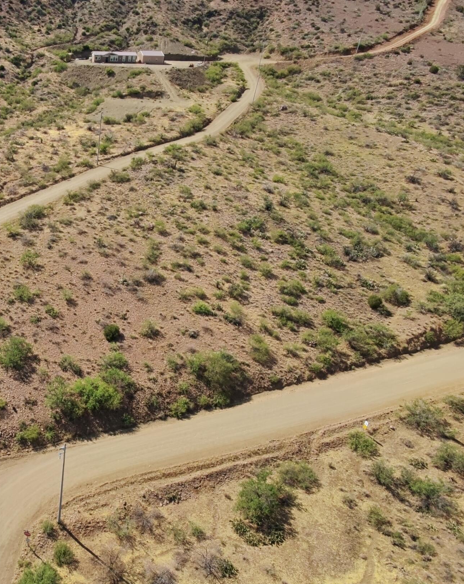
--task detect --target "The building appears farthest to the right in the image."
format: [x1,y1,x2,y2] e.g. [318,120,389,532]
[139,48,167,64]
